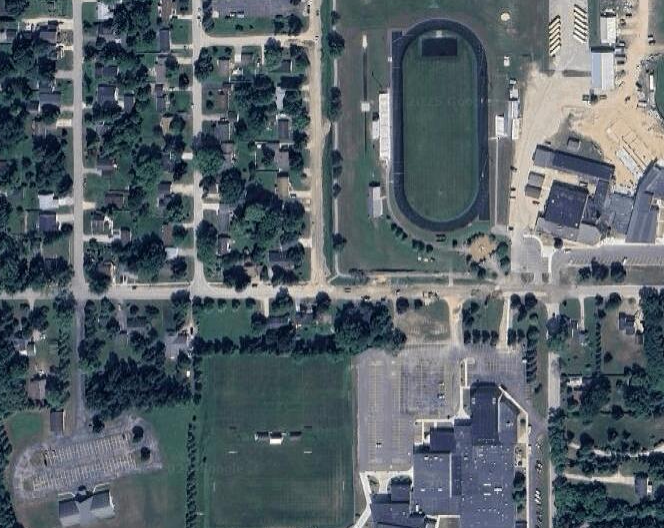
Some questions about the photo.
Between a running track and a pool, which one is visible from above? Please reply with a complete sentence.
Of the two, only a running track appears.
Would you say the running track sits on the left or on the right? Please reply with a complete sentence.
The running track sits on the right side.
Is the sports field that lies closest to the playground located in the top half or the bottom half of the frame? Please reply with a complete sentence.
You can find the sports field that lies closest to the playground in the top half.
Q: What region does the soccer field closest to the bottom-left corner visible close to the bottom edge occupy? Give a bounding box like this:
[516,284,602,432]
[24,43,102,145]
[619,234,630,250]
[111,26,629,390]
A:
[214,366,350,528]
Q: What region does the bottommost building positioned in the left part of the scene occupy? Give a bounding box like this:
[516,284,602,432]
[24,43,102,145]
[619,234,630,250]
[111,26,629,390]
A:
[58,488,116,528]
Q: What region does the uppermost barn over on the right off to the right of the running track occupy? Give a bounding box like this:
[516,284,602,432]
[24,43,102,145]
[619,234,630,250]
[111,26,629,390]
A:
[601,17,617,44]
